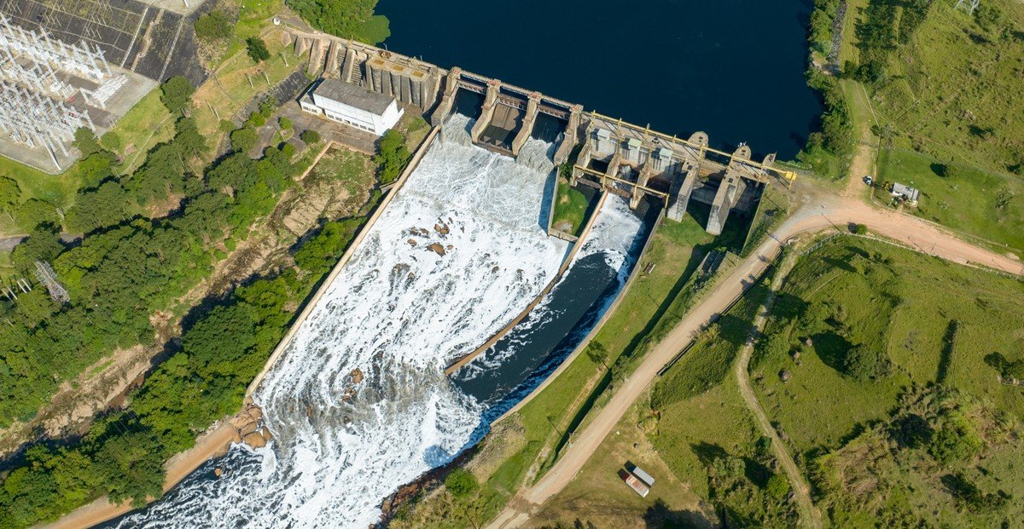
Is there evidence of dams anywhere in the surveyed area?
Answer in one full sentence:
Yes, the image includes a dam.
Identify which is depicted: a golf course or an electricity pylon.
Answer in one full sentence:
This aerial view contains an electricity pylon.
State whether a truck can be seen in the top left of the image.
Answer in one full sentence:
No, the scene shows no truck in the top left of the image.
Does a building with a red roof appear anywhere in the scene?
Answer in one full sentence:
No, there isn't any building with a red roof down there.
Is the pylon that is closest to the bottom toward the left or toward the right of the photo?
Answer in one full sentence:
It is on the left.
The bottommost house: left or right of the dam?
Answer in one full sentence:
To the right of the dam is where the bottommost house appears.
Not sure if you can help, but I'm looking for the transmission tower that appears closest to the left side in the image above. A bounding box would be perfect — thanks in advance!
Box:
[29,257,69,307]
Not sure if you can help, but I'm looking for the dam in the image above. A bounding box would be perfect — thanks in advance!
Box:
[279,25,780,232]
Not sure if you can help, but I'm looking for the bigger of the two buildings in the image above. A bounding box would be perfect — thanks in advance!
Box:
[299,76,403,134]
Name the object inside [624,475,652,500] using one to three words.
truck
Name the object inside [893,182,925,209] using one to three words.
house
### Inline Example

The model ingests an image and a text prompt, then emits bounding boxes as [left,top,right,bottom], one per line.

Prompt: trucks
[631,467,658,490]
[624,475,652,500]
